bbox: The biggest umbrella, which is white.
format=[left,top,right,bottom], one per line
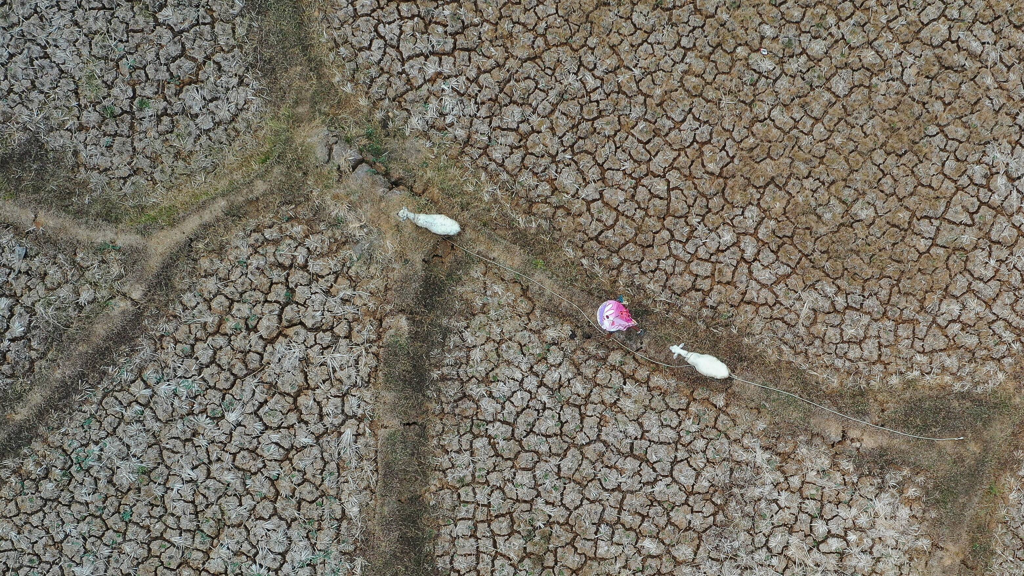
[596,300,637,332]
